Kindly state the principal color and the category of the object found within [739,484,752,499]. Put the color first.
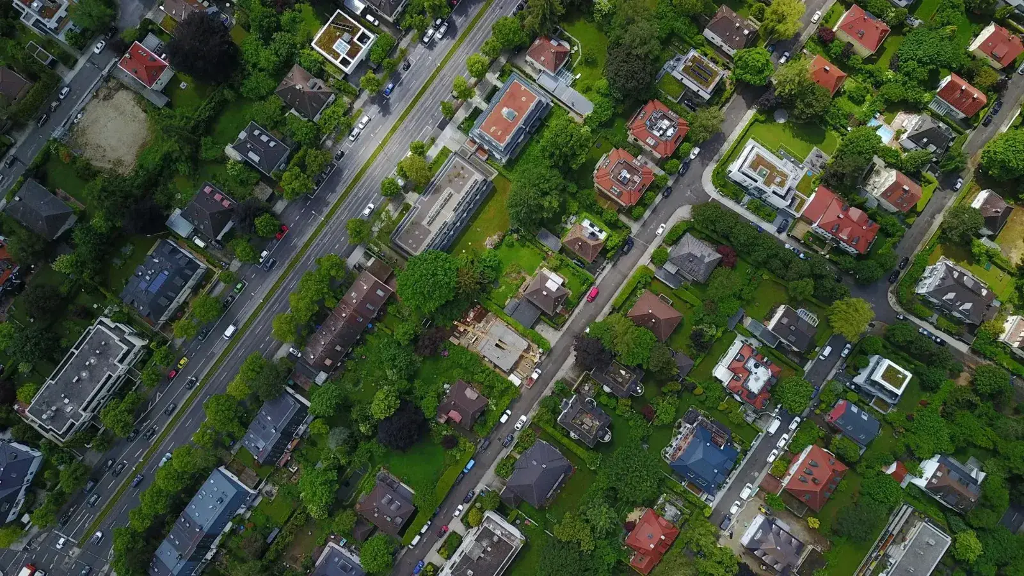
white vehicle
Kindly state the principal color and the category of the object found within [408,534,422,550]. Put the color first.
white vehicle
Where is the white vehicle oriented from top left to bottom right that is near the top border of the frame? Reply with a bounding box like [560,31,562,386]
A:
[363,13,380,28]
